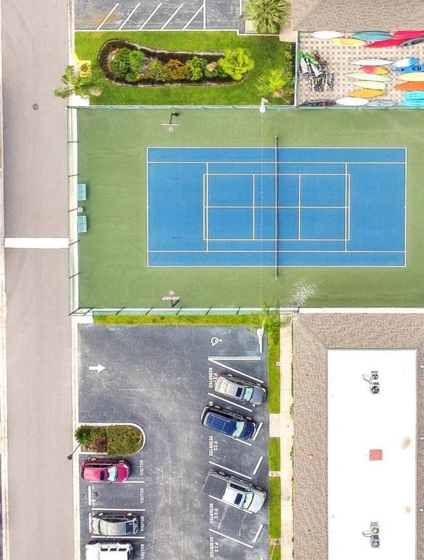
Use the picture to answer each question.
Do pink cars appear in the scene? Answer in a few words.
Yes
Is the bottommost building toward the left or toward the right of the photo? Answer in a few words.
right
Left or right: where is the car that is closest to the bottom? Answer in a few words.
left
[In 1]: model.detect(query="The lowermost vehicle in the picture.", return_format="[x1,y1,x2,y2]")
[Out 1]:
[86,540,134,560]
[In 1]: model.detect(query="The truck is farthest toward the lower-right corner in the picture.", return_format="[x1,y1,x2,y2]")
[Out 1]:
[201,470,267,512]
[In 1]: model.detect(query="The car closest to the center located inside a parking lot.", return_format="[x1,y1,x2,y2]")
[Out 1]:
[214,374,267,407]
